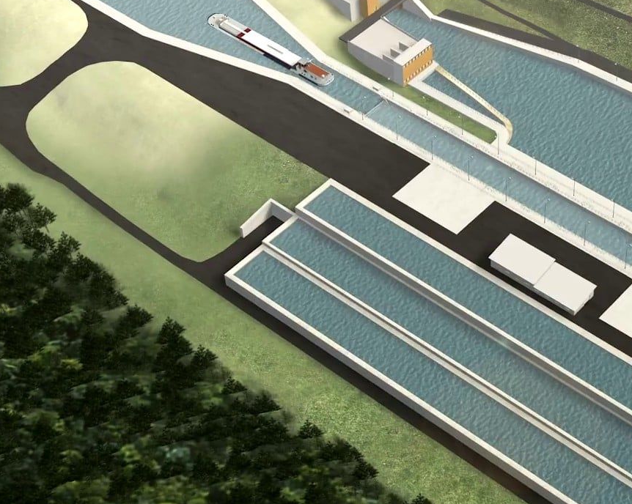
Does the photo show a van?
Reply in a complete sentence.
No, no van is visible in the scene.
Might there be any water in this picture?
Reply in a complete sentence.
Yes, there's water in this view.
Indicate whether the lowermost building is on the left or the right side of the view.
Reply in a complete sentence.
The lowermost building is on the right side of the image.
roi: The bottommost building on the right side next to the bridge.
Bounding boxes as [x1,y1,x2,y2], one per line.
[352,18,434,87]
